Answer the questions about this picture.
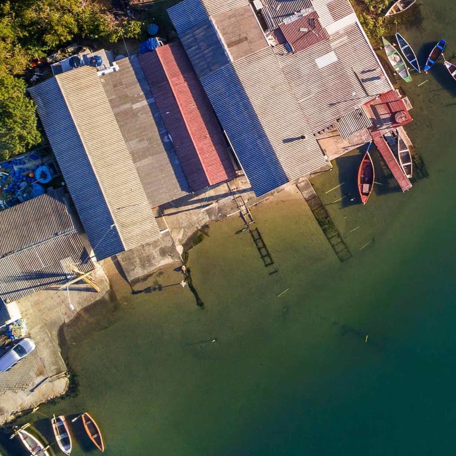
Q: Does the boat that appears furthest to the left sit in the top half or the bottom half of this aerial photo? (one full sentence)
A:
You can find the boat that appears furthest to the left in the bottom half.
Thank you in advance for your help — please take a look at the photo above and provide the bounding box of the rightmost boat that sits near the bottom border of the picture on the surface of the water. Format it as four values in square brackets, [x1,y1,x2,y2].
[82,412,105,452]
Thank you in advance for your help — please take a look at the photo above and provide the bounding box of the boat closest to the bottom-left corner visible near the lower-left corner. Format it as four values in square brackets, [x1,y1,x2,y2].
[19,429,50,456]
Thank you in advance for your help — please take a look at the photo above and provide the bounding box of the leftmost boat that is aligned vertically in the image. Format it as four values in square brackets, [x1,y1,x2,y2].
[52,415,72,455]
